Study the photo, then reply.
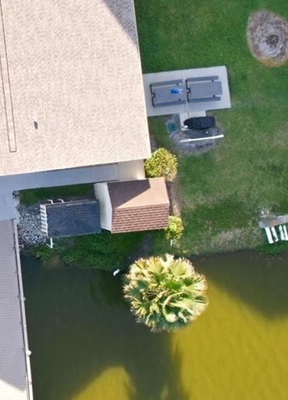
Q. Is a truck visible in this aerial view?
No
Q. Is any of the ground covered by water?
Yes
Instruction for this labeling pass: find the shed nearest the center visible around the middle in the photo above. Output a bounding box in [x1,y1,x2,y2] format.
[100,177,174,234]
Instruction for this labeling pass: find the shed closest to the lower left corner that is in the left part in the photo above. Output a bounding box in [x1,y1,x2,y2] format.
[37,199,101,246]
